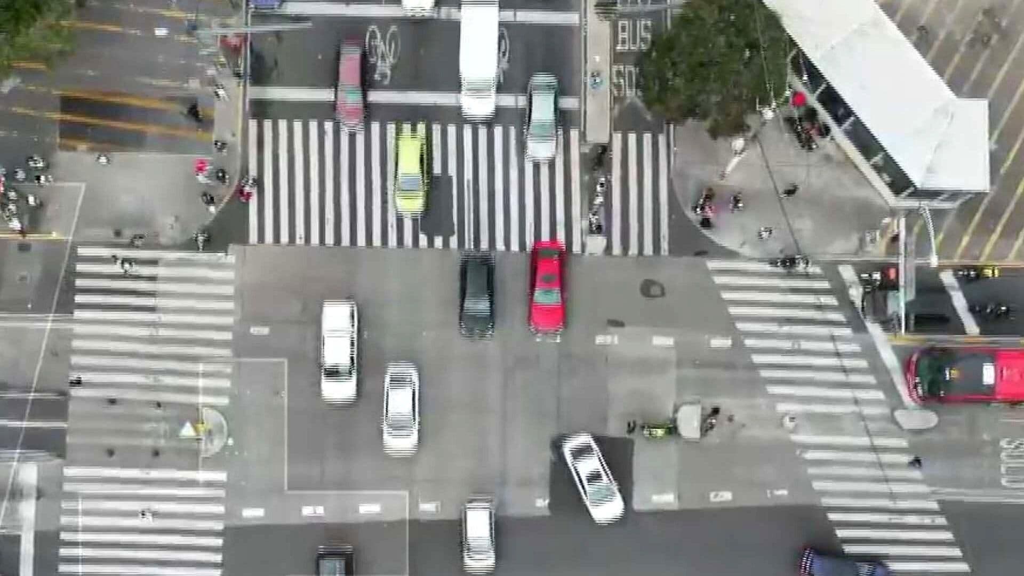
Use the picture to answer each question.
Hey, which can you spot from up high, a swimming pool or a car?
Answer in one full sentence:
The image shows a car.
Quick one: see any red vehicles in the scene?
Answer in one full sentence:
Yes, this view includes a red vehicle.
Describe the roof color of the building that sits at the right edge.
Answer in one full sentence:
The roof of the building that sits at the right edge is white.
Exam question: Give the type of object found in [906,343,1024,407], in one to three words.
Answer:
bus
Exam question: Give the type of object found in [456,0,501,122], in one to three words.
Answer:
van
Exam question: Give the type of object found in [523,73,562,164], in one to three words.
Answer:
car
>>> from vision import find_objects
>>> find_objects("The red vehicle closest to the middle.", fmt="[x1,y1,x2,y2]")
[527,240,569,337]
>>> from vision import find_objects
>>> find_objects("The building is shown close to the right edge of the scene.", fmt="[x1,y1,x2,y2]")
[747,0,990,212]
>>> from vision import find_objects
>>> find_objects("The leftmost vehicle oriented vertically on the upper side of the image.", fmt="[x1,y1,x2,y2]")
[332,40,369,132]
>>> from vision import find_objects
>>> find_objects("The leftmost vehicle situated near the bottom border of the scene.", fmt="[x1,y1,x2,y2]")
[318,544,354,576]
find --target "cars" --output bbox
[457,251,497,339]
[317,299,360,404]
[379,362,422,457]
[562,431,623,525]
[458,495,499,574]
[527,240,569,337]
[523,73,562,164]
[390,122,430,218]
[318,544,354,576]
[332,40,369,132]
[798,551,894,576]
[404,0,435,19]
